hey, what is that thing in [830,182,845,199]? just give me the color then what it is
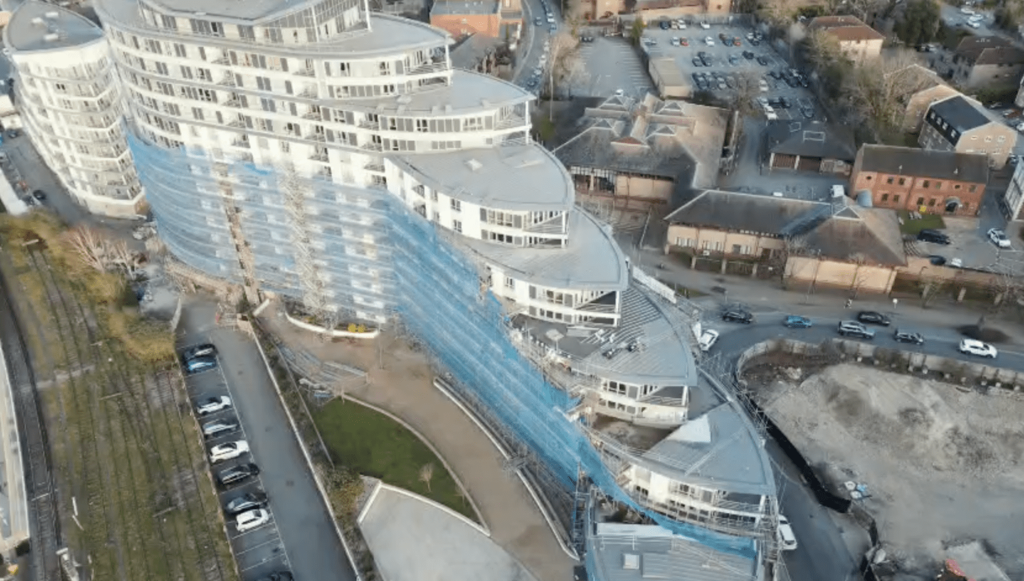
white vehicle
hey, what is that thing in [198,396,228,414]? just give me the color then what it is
white car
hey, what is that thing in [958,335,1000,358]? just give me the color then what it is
white car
